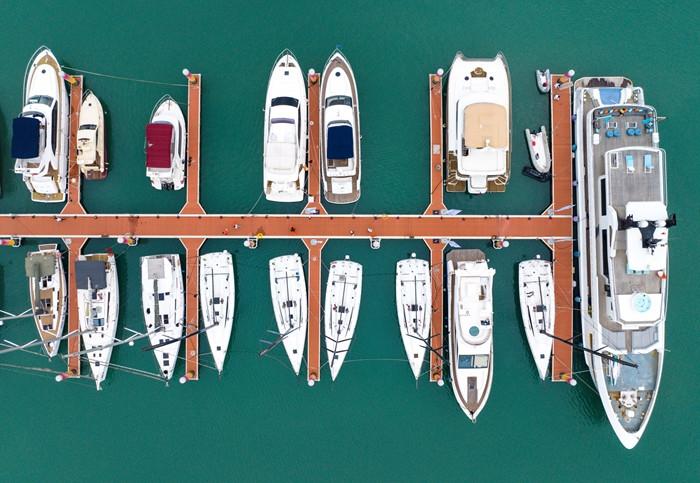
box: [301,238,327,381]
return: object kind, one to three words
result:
pier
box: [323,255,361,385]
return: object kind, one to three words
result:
boat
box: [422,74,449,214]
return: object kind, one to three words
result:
pier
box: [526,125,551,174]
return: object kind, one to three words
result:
boat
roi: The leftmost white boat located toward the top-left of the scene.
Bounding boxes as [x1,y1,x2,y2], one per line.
[11,46,70,202]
